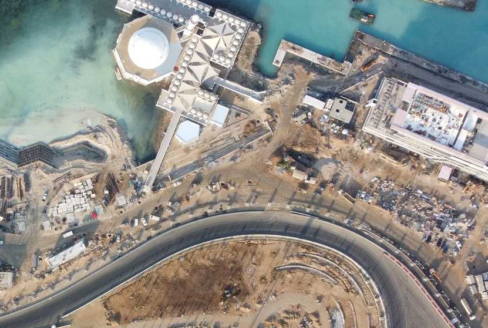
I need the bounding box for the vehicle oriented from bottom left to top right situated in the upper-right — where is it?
[359,57,378,74]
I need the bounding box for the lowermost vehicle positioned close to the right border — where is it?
[459,296,478,324]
